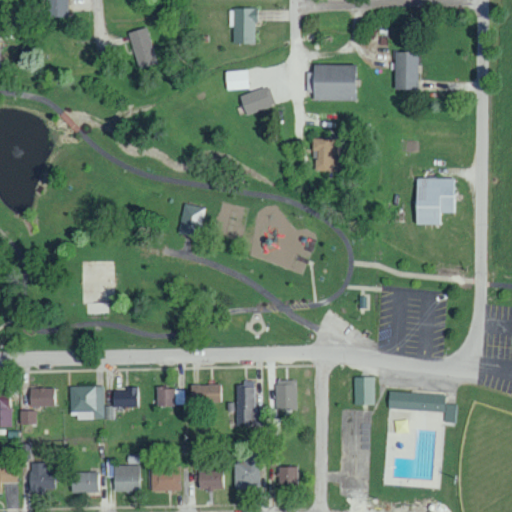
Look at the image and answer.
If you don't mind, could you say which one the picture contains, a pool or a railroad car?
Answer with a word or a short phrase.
pool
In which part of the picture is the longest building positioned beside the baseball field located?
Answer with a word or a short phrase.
bottom right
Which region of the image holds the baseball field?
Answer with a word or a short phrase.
bottom right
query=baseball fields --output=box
[460,402,512,512]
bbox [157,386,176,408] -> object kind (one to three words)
house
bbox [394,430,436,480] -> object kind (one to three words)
swimming pool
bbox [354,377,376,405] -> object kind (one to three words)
building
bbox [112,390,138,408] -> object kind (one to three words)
house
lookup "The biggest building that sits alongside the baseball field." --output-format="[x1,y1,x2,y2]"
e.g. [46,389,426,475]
[388,391,446,410]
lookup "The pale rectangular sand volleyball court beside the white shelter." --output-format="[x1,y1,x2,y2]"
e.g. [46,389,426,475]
[82,261,115,304]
